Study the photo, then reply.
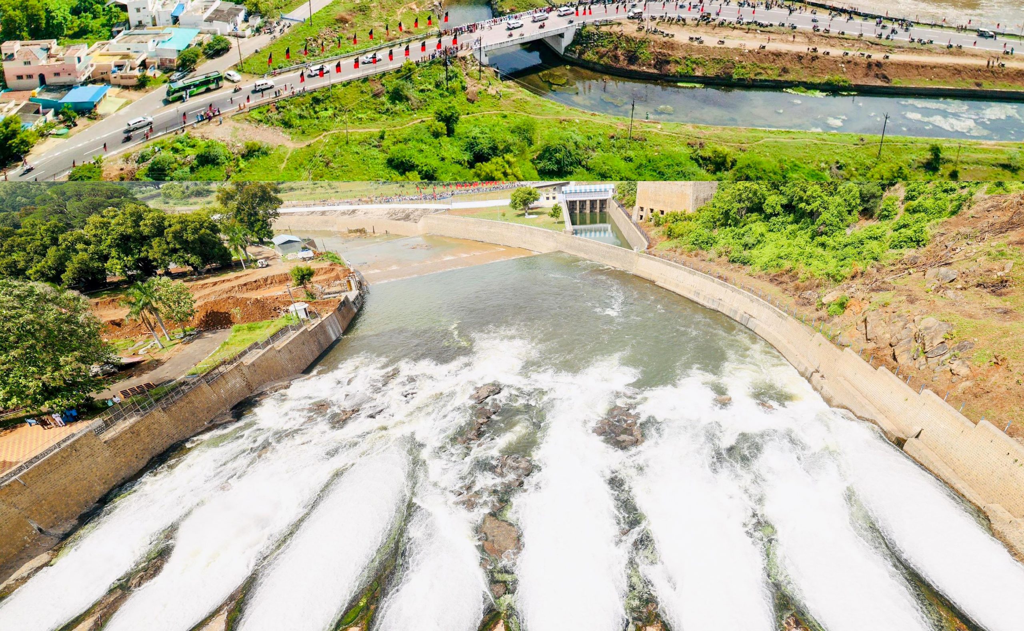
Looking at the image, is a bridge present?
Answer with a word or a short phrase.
Yes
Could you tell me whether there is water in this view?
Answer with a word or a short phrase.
Yes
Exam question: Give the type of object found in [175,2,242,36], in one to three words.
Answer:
house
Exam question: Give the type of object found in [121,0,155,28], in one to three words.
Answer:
house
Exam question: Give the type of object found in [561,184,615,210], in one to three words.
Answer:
building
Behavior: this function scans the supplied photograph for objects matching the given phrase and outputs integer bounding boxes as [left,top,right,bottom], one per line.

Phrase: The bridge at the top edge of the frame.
[466,3,586,65]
